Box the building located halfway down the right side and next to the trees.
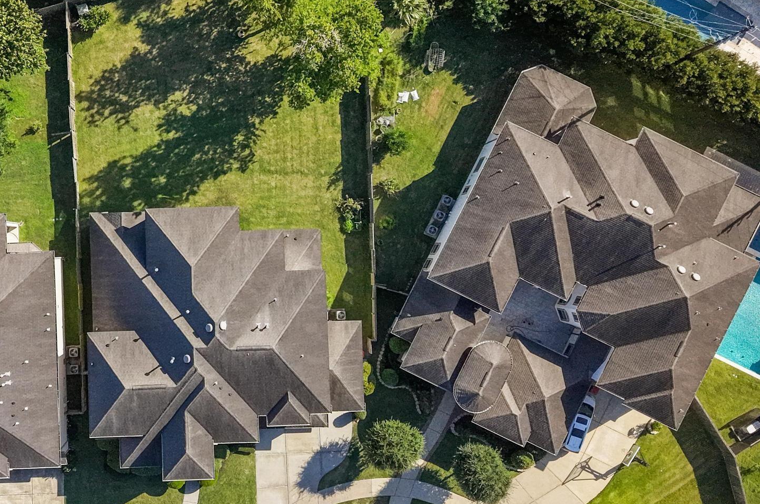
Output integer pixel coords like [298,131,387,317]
[389,64,760,455]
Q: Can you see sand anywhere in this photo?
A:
No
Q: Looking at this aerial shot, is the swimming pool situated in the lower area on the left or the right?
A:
right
